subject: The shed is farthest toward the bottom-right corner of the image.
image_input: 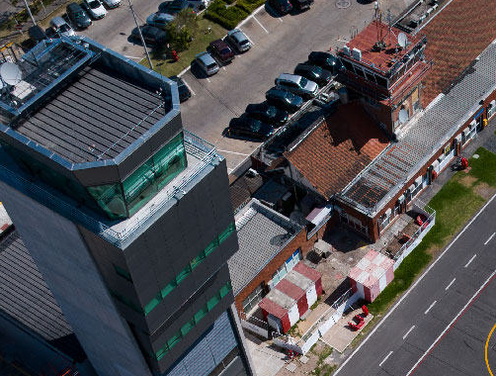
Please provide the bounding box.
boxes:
[347,248,396,303]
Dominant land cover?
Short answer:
buildings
